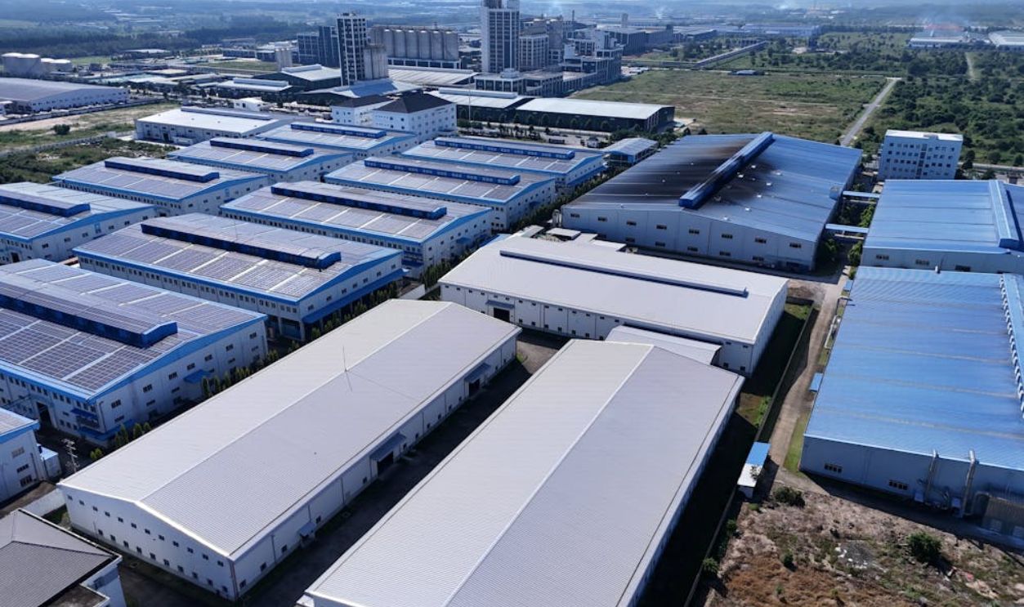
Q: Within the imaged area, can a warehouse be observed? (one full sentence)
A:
Yes, you can see a warehouse in this photo.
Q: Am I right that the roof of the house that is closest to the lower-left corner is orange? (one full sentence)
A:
No, the roof of the house that is closest to the lower-left corner is gray.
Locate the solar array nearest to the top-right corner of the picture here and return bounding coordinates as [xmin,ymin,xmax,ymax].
[603,136,657,154]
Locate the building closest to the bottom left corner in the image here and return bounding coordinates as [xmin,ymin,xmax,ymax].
[0,509,119,607]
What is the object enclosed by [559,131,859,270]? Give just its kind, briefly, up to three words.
building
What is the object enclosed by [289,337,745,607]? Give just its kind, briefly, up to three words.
warehouse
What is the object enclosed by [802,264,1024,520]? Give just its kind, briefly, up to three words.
building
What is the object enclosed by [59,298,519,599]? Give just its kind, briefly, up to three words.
warehouse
